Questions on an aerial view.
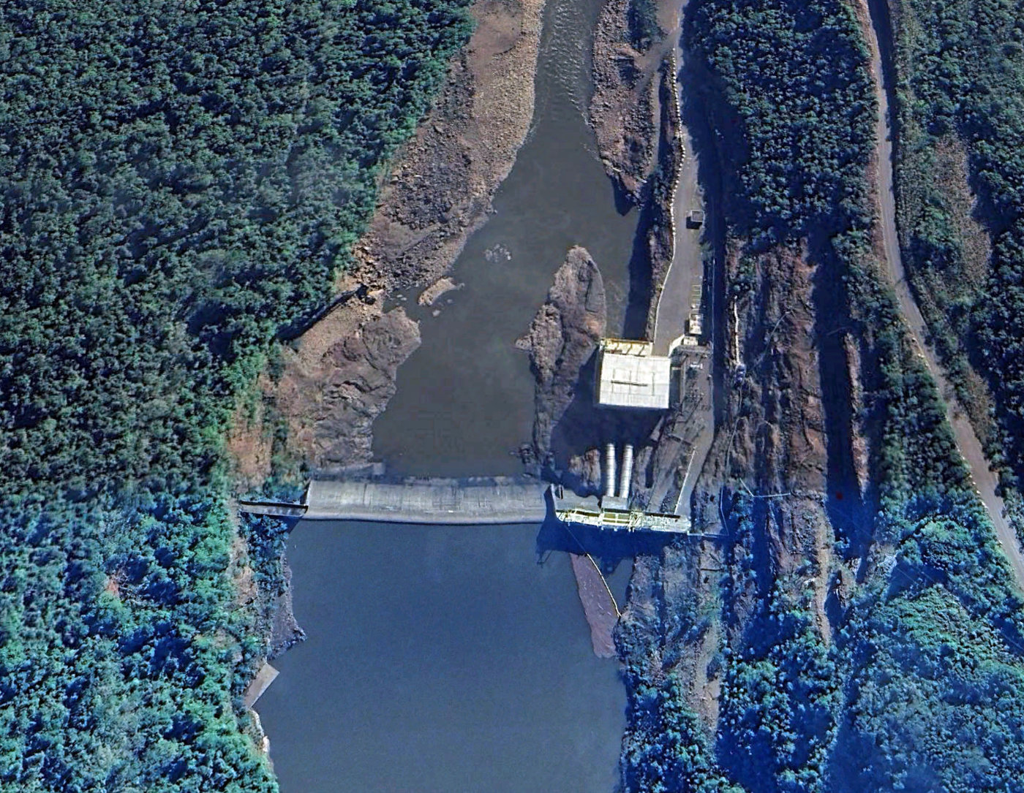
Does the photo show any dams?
Yes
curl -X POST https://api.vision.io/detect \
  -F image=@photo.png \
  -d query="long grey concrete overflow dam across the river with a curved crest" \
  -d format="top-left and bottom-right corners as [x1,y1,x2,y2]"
[304,473,554,524]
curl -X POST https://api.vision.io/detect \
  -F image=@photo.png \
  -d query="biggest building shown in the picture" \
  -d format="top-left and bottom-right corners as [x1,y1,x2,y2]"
[592,339,684,410]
